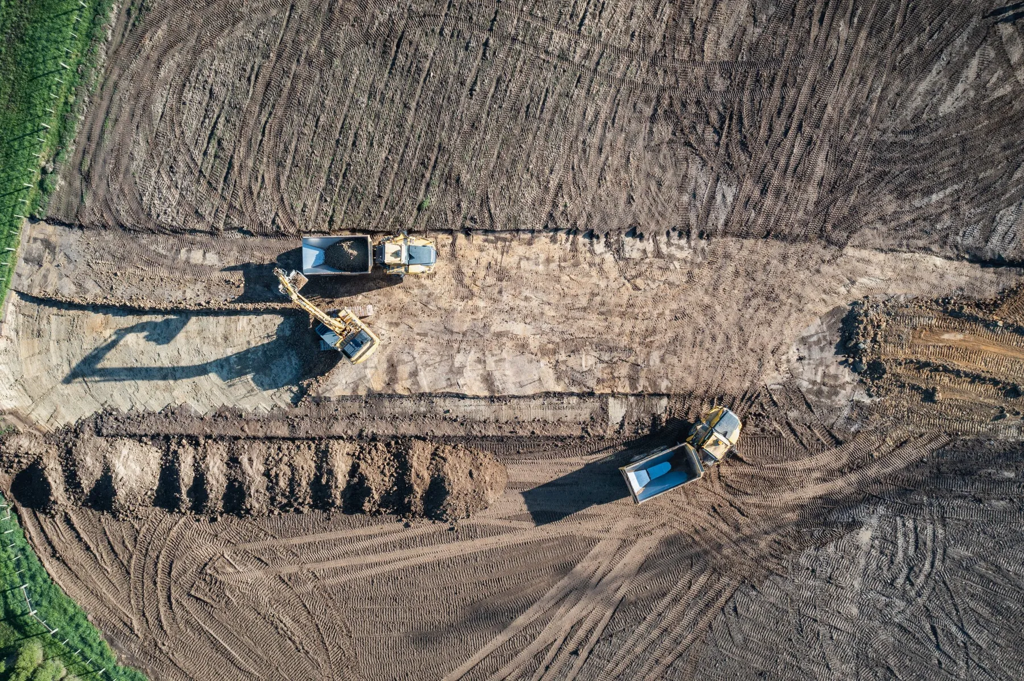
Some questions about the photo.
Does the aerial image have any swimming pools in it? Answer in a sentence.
No, the photo shows no swimming pool.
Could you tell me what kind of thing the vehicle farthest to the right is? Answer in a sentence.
The vehicle farthest to the right can be classified as a truck.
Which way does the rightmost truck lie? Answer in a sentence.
The rightmost truck runs on a diagonal in the image.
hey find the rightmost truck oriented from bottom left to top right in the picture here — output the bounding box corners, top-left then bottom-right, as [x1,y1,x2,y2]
[621,404,741,503]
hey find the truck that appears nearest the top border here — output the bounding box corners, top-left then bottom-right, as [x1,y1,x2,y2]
[300,233,437,279]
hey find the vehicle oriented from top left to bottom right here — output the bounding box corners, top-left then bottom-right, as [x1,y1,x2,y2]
[276,267,380,361]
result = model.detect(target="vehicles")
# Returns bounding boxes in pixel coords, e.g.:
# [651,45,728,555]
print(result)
[276,267,380,361]
[300,233,437,279]
[621,404,741,503]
